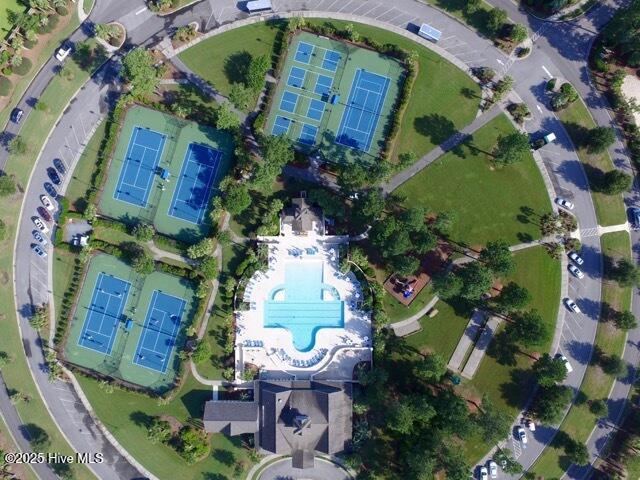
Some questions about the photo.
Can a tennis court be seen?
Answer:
Yes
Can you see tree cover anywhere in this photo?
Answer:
Yes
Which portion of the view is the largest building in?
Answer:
bottom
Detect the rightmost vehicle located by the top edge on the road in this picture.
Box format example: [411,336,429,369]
[418,23,440,43]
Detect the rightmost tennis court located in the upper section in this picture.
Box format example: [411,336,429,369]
[321,45,406,162]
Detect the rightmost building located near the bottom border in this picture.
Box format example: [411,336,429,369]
[254,377,352,471]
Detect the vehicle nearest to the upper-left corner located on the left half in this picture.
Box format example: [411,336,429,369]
[56,46,72,62]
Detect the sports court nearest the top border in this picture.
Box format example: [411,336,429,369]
[286,31,351,78]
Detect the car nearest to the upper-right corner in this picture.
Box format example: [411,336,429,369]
[536,133,554,146]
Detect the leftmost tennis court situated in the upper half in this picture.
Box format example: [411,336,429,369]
[98,104,176,226]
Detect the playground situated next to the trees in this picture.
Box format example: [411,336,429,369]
[384,269,431,307]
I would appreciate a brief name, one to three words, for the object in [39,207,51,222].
vehicle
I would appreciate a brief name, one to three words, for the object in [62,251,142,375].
tennis court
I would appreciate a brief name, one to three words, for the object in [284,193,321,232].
building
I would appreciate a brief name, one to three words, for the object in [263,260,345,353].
swimming pool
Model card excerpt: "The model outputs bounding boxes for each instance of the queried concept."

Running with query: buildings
[254,377,352,471]
[284,193,321,232]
